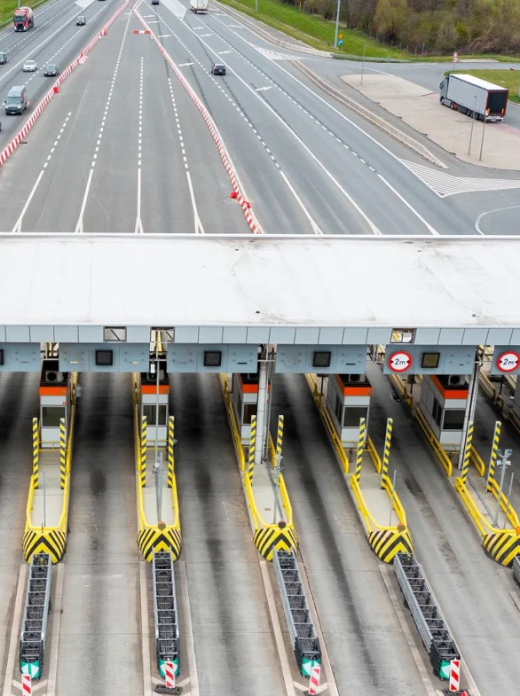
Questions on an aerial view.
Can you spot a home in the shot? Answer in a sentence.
No, the frame has no home in it.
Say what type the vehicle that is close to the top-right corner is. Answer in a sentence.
I'd say the vehicle that is close to the top-right corner is a truck.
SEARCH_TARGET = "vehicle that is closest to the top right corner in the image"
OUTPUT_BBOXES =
[440,73,512,121]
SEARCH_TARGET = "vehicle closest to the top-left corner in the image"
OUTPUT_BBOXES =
[9,0,38,30]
